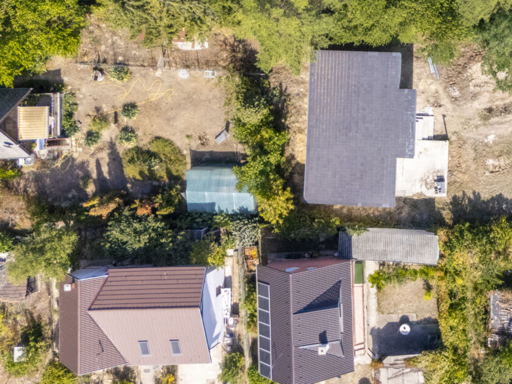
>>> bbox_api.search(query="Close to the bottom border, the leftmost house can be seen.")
[59,254,225,376]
